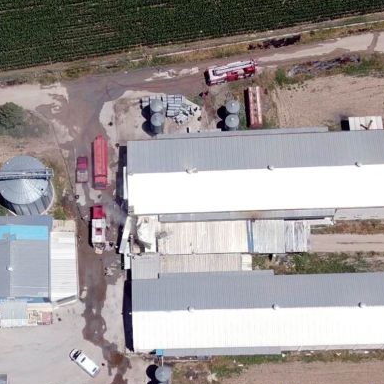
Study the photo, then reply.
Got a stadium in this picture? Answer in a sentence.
No, I find no stadium anywhere in the image.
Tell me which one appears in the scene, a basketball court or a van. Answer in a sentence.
The one in the frame is a van.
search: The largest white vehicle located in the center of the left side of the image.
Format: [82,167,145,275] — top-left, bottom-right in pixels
[90,204,107,245]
